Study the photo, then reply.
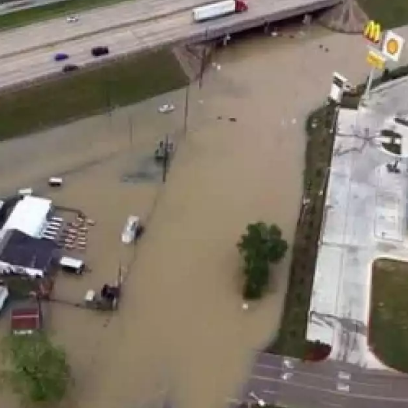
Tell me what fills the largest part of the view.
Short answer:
water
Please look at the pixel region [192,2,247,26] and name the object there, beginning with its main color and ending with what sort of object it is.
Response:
white truck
